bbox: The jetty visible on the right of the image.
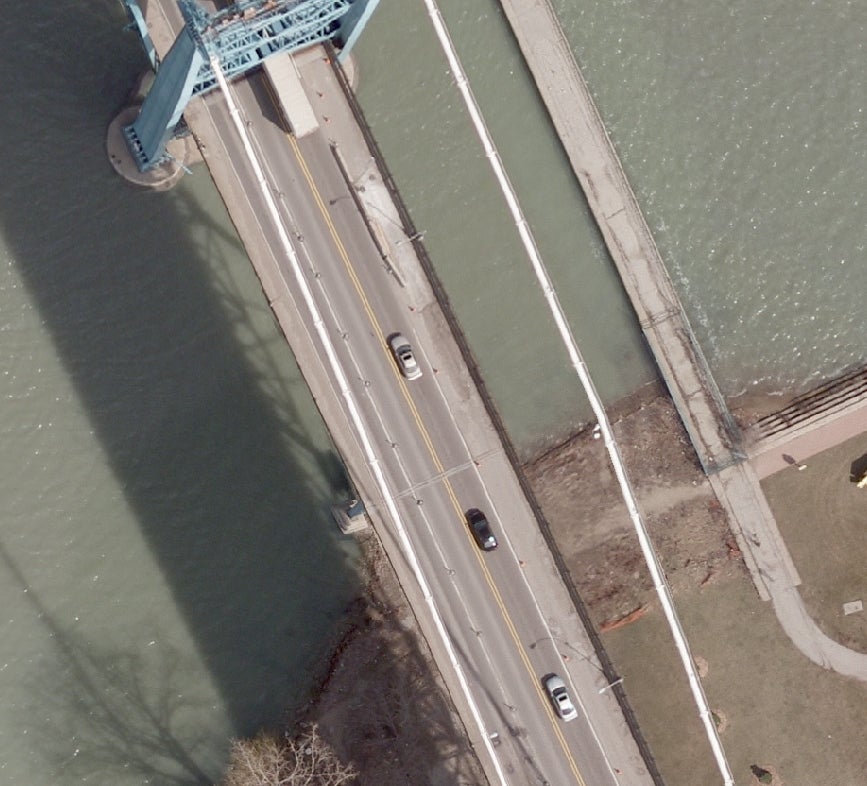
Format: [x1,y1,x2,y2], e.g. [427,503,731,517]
[497,0,743,473]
